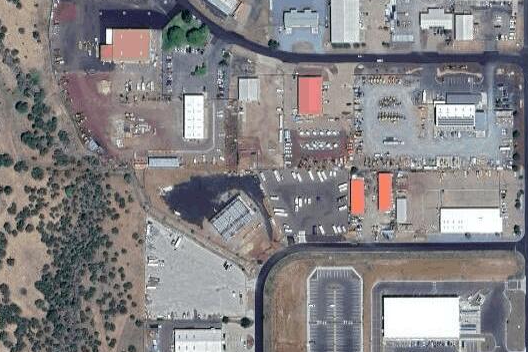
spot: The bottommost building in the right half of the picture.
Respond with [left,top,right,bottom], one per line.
[384,296,461,337]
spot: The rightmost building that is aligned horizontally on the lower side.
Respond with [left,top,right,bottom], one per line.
[441,208,501,233]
